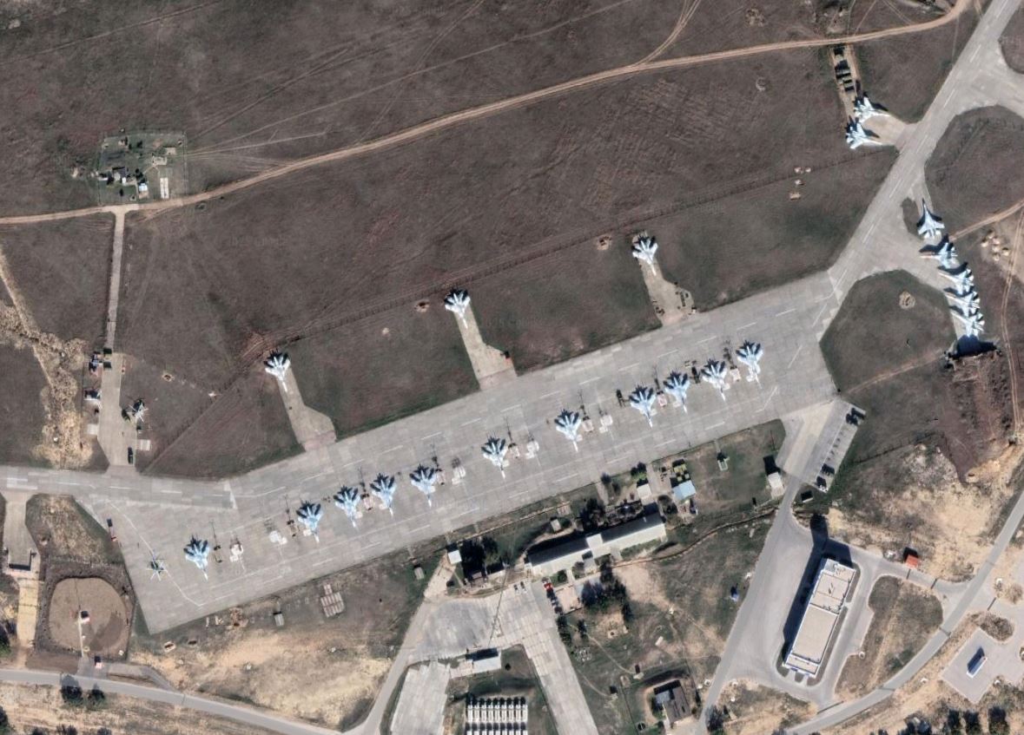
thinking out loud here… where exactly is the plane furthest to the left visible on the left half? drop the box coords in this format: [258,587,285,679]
[185,542,210,579]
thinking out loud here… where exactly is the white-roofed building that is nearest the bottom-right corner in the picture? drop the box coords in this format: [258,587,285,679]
[781,556,856,681]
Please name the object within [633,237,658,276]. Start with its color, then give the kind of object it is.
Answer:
white airplane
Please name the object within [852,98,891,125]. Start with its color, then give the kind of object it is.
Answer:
white airplane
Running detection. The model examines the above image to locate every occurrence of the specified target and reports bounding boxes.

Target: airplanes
[185,542,210,579]
[630,389,656,427]
[556,413,582,451]
[952,313,988,338]
[298,505,324,542]
[940,268,977,294]
[266,354,292,391]
[920,242,958,269]
[483,440,510,479]
[739,347,765,384]
[410,468,437,505]
[844,124,881,151]
[665,374,691,411]
[919,204,945,241]
[445,290,471,328]
[852,98,891,125]
[945,291,983,317]
[335,489,361,526]
[633,237,658,276]
[371,477,397,514]
[703,362,729,400]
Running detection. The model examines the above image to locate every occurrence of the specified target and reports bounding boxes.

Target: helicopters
[145,561,162,579]
[129,402,147,421]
